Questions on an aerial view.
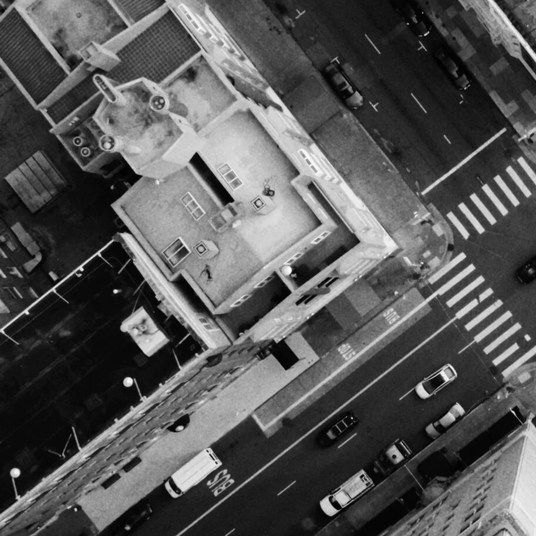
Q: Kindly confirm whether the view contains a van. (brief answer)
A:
Yes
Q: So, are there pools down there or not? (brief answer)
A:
No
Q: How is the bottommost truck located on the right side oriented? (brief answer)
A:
at an angle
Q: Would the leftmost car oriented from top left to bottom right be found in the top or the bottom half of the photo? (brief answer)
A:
top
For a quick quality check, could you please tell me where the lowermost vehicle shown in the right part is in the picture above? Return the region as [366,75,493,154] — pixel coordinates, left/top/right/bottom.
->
[320,468,375,516]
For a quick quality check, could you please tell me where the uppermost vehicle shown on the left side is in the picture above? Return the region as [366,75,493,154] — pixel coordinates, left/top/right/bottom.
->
[167,449,222,497]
